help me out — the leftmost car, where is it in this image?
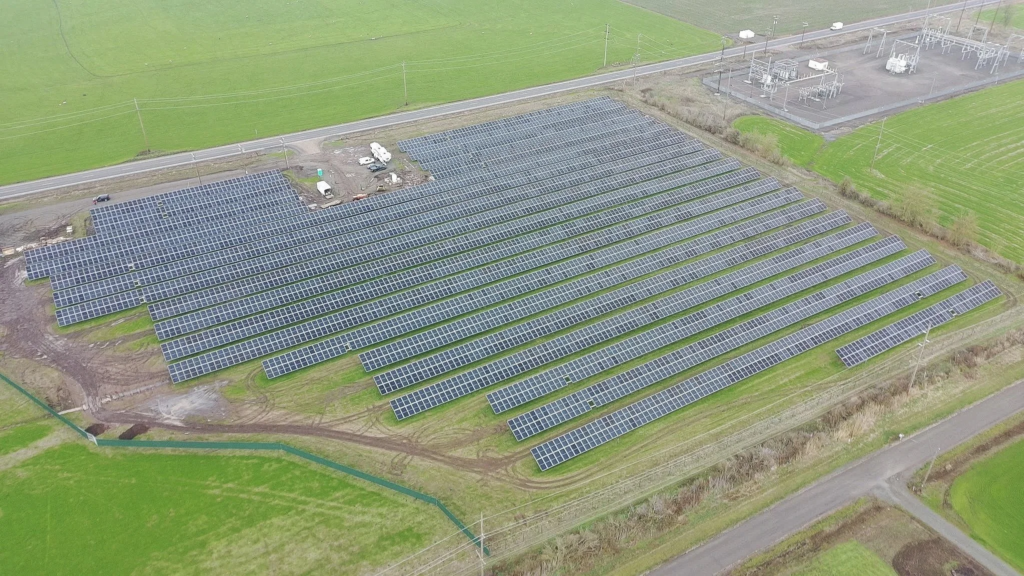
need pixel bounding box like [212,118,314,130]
[90,192,111,204]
